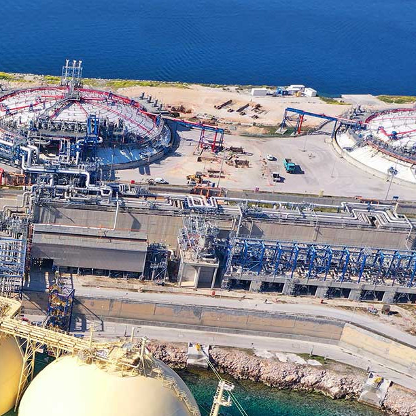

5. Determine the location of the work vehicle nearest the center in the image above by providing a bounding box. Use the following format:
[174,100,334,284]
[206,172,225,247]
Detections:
[174,171,202,193]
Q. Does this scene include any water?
Yes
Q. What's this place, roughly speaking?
industrial area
